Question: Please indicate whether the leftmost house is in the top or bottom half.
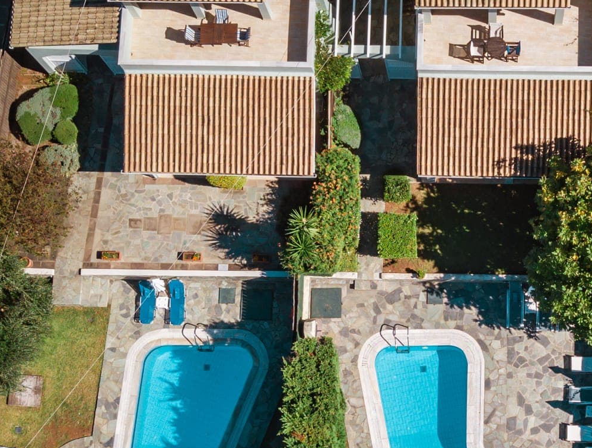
top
